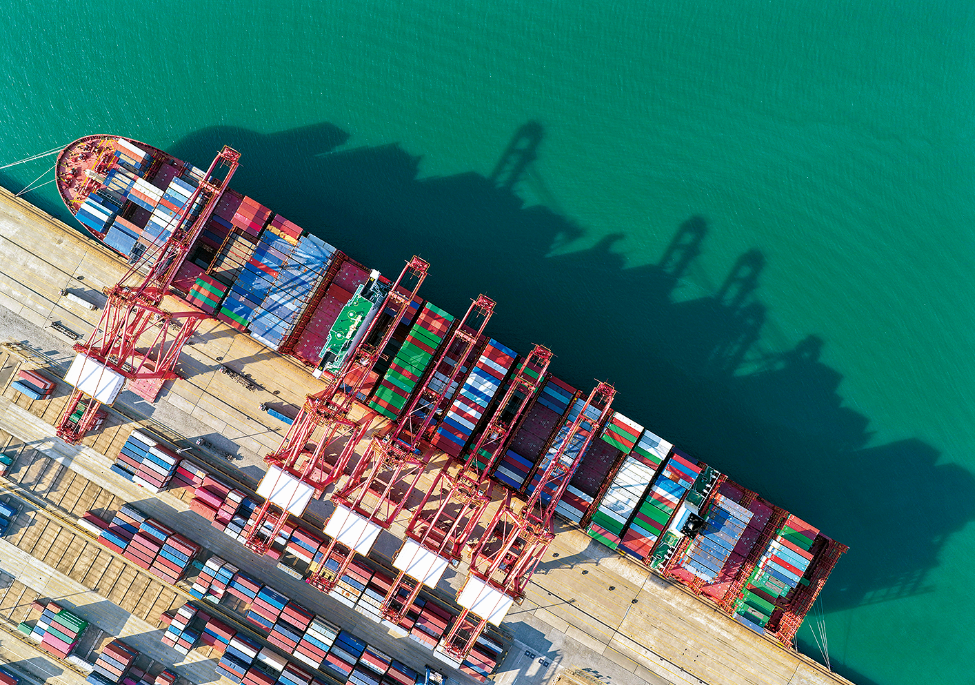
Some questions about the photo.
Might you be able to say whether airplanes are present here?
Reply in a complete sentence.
No, the picture doesn't show any airplane.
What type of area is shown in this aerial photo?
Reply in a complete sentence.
The picture captures a port.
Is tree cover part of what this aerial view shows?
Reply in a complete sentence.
No, no tree cover is visible.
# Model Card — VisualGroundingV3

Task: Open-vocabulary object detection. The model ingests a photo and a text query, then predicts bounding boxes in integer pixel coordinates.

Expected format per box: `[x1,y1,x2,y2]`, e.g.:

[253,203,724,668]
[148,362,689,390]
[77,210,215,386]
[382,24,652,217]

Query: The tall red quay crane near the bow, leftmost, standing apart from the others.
[52,140,241,437]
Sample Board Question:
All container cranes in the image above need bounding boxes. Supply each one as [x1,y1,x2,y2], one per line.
[376,341,554,622]
[243,252,432,552]
[52,140,241,437]
[308,288,498,590]
[439,379,617,659]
